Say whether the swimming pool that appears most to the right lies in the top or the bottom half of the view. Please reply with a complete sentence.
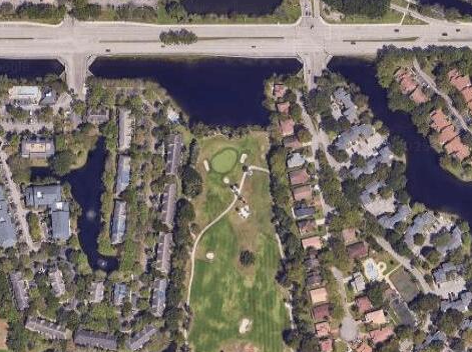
The bottom half of the photo is where the swimming pool that appears most to the right is.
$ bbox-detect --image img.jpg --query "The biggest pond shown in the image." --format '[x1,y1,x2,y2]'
[31,137,118,273]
